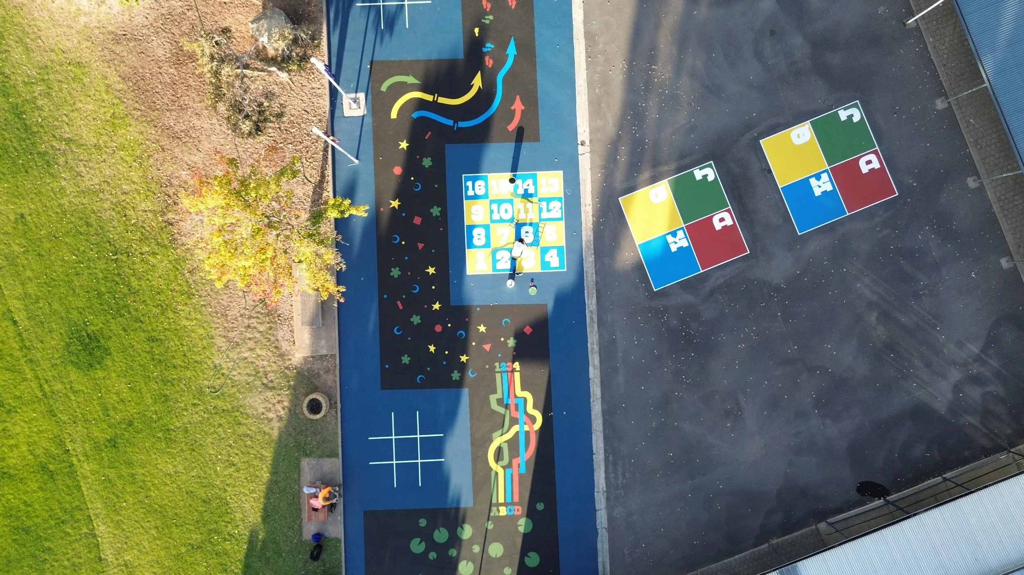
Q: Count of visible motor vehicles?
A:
none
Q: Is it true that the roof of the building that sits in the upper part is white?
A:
No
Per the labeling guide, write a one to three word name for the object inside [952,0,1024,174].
building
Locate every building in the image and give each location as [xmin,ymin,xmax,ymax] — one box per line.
[952,0,1024,174]
[753,468,1024,575]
